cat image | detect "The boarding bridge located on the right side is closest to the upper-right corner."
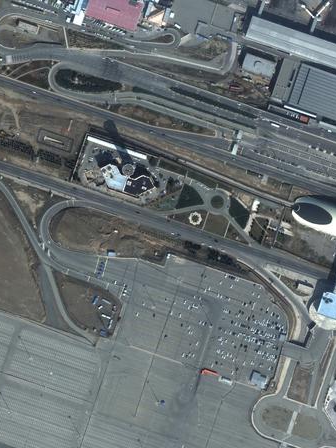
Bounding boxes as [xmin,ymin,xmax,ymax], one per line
[301,1,331,32]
